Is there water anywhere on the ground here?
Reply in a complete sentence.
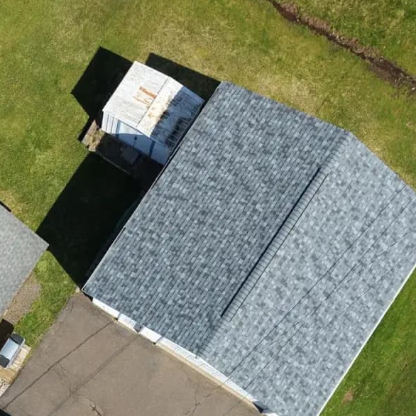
No, there's no water in this view.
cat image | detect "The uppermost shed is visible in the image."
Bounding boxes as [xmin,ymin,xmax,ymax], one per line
[101,62,200,166]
